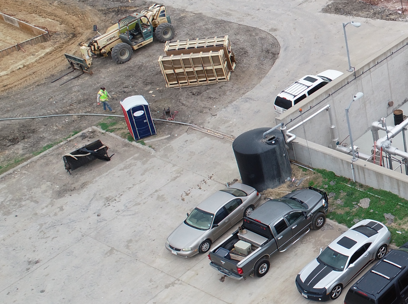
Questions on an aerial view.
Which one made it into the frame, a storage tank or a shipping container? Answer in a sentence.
Looking from above, you can make out a storage tank.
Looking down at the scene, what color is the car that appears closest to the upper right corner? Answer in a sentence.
The car that appears closest to the upper right corner is white.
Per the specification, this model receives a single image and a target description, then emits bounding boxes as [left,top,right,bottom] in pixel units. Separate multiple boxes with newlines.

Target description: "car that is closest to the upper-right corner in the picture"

[270,72,341,116]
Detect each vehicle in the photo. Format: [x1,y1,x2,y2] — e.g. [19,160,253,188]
[206,183,332,283]
[288,216,398,304]
[157,181,264,264]
[62,1,172,82]
[270,72,341,116]
[346,242,408,304]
